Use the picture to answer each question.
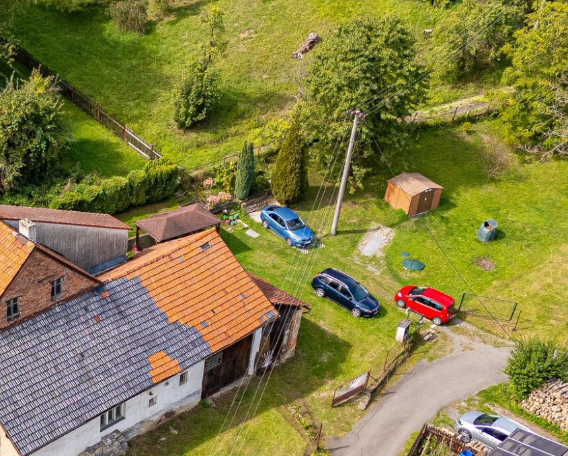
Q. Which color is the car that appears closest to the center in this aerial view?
blue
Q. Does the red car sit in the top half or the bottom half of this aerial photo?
bottom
